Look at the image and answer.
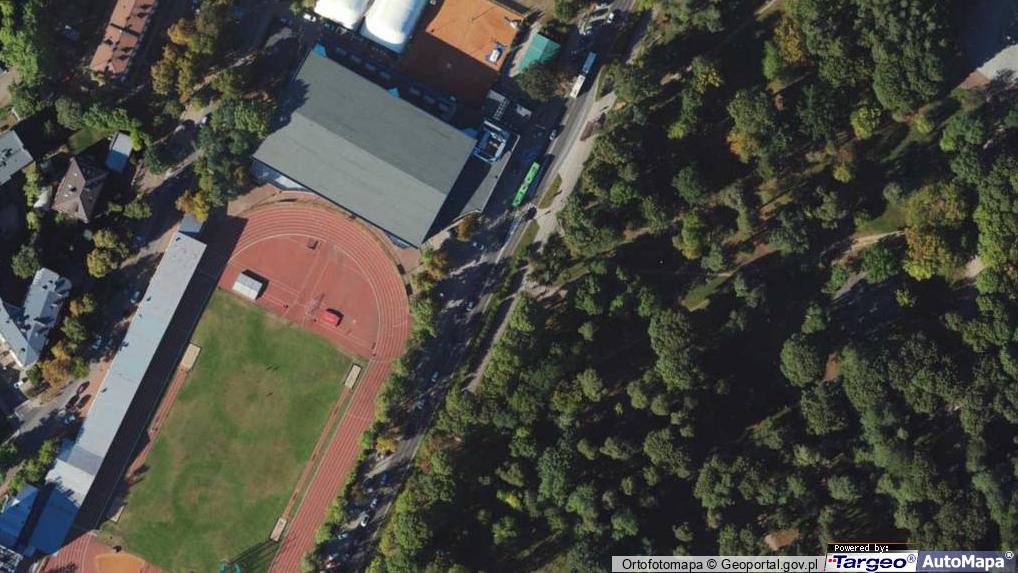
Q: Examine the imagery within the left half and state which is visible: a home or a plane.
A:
home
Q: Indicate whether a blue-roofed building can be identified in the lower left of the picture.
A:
Yes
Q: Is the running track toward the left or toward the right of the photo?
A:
left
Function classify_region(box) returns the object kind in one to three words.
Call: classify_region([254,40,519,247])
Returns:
building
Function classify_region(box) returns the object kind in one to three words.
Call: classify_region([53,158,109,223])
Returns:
house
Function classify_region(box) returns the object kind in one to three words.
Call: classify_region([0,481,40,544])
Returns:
building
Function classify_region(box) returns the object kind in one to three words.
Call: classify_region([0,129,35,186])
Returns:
house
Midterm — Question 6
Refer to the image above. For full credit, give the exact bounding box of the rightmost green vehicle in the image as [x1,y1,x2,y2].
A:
[512,161,540,207]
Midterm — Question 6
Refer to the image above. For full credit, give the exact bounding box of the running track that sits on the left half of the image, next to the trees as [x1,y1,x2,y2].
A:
[61,208,408,573]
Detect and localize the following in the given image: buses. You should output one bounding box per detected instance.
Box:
[571,52,596,98]
[512,161,540,207]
